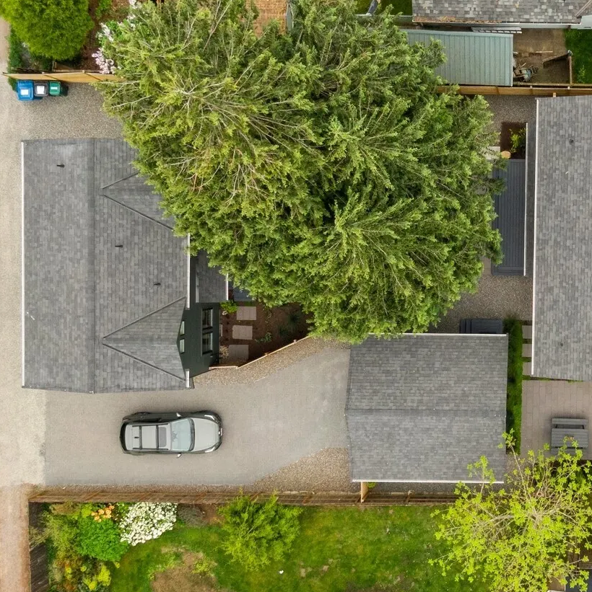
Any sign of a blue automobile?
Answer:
No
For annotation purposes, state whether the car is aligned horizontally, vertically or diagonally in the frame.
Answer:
horizontally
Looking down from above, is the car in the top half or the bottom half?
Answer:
bottom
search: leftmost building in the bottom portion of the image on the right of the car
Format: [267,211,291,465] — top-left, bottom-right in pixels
[346,332,507,484]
